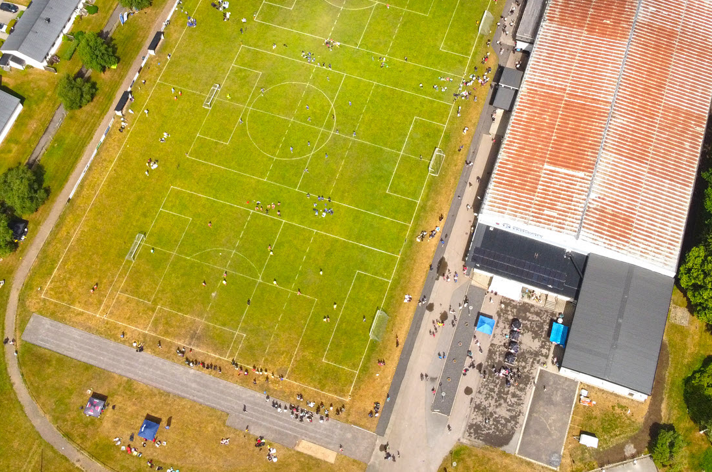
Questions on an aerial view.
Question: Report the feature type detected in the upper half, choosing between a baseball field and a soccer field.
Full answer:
What appears in the upper half is a soccer field.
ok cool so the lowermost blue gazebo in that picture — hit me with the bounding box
[138,421,162,443]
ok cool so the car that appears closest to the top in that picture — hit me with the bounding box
[0,2,21,14]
